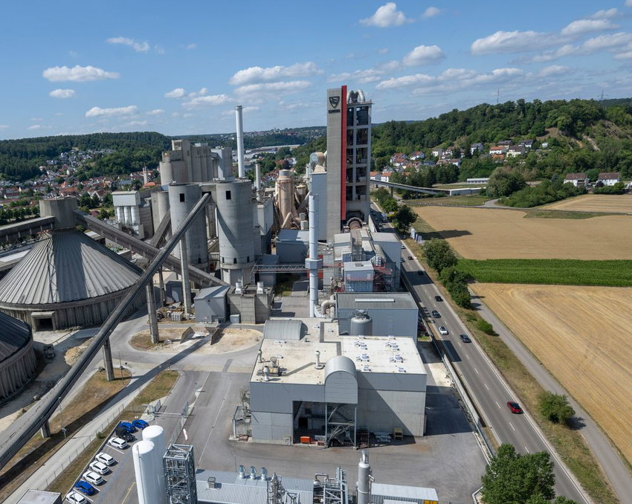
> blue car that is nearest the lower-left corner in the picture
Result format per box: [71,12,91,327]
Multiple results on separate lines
[74,480,96,496]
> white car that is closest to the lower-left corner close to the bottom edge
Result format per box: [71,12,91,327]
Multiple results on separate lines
[65,491,87,504]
